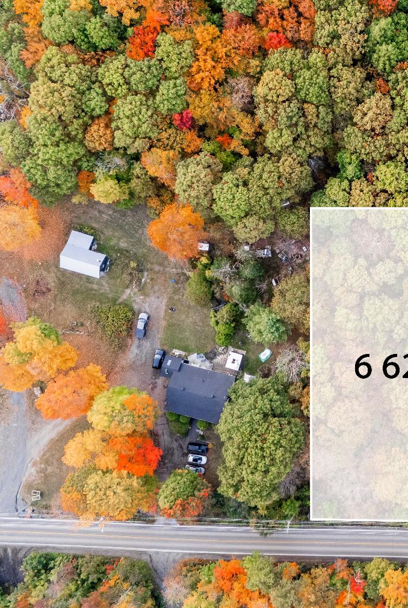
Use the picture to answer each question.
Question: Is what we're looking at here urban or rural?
rural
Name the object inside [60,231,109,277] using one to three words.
shed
